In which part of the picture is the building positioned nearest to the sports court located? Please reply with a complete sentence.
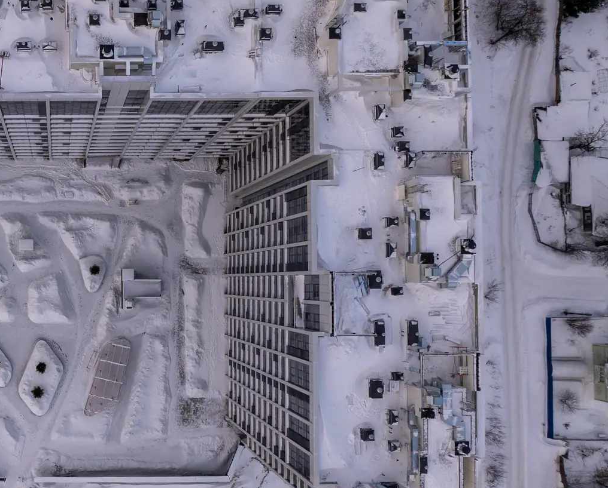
Look in the left portion of the view to spot the building positioned nearest to the sports court.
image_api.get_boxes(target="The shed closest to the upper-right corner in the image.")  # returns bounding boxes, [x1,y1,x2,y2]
[555,71,591,101]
